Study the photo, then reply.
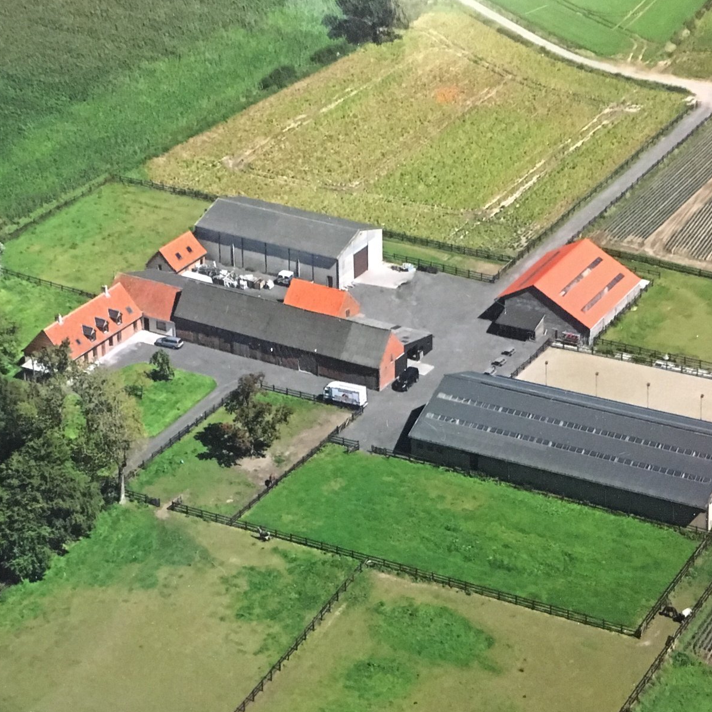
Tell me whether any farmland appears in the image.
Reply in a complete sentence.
Yes, farmland can be seen from above here.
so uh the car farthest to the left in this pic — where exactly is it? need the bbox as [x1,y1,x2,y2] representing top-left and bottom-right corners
[155,333,184,347]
